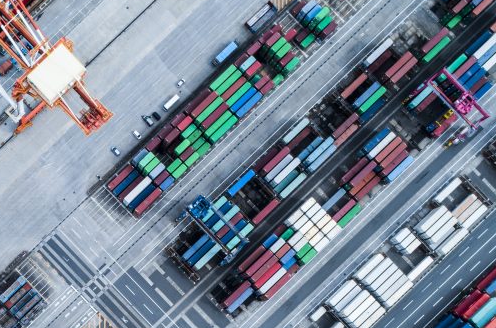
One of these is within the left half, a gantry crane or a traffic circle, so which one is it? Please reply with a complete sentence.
The feature located within the left half is a gantry crane.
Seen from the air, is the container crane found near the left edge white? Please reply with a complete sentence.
Yes, the container crane found near the left edge is white.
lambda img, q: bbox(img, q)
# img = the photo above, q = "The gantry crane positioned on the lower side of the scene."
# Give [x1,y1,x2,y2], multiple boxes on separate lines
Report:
[170,196,248,273]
